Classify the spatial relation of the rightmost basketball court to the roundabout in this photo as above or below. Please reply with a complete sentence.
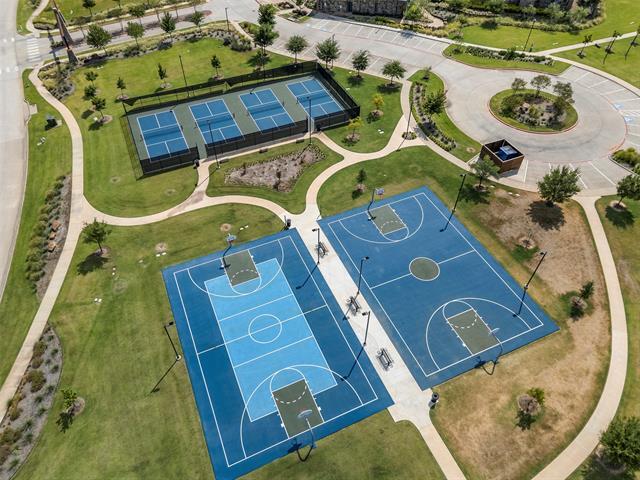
In the image, the rightmost basketball court sits below the roundabout.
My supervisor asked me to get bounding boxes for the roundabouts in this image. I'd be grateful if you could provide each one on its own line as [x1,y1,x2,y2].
[489,88,578,134]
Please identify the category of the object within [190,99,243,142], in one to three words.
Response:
sports court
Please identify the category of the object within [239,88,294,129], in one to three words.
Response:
sports court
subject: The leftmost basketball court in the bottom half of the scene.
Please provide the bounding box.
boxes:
[162,227,396,480]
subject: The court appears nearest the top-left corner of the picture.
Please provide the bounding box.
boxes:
[138,110,188,157]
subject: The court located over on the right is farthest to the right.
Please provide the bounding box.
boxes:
[319,185,559,390]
